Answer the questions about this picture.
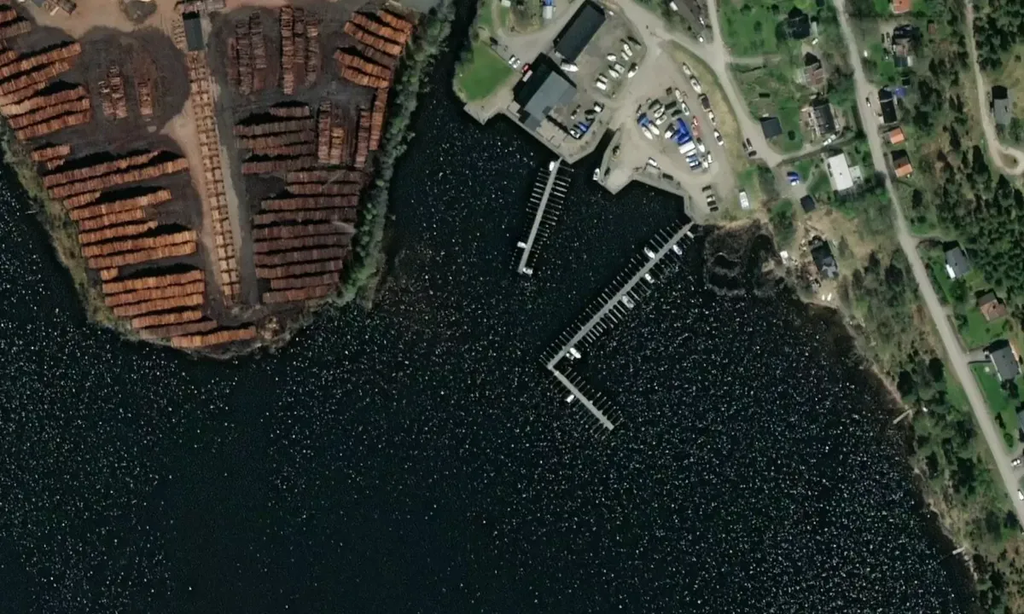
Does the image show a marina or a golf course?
marina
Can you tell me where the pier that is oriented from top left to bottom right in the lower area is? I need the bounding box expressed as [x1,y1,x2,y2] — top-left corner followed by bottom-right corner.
[547,363,615,431]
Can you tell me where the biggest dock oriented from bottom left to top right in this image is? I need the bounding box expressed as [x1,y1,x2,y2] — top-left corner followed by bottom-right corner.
[547,215,695,369]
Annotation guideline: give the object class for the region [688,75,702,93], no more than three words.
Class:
boat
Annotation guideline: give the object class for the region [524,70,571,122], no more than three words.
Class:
building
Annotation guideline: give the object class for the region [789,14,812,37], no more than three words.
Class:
house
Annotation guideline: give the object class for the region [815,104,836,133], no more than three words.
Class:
house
